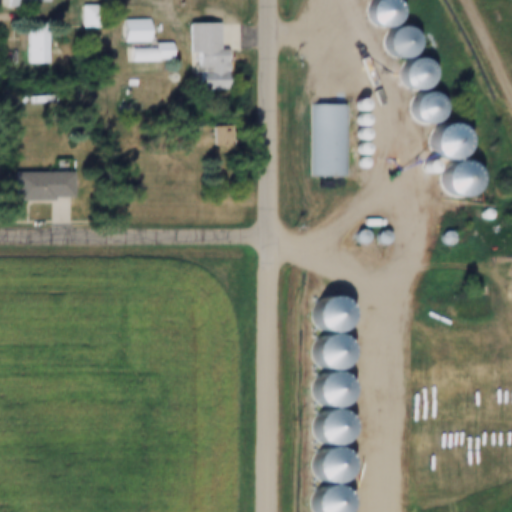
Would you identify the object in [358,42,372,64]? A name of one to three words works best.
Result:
vehicle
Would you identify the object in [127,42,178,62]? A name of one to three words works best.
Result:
house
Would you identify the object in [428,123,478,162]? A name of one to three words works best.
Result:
silo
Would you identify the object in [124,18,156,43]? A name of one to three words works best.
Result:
building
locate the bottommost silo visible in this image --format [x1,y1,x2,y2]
[312,482,360,512]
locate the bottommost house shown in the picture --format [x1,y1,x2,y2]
[20,172,78,200]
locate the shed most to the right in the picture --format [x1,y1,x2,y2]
[307,103,349,177]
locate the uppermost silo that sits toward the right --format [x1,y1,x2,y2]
[365,0,410,31]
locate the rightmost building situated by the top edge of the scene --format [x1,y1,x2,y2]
[190,22,233,90]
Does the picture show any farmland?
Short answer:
Yes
